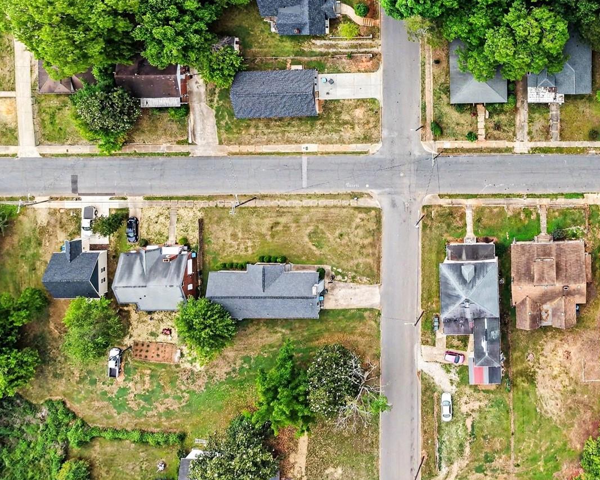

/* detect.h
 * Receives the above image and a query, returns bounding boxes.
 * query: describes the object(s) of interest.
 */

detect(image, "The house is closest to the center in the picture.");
[202,261,323,319]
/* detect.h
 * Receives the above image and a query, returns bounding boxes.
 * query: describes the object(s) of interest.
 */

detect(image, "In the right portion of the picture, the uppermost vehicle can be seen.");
[444,350,465,363]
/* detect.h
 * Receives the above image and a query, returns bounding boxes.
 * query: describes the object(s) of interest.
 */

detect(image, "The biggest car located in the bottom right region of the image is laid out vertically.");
[440,392,453,421]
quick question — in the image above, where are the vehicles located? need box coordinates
[80,206,96,238]
[444,350,465,363]
[126,216,140,242]
[440,392,453,421]
[109,347,124,377]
